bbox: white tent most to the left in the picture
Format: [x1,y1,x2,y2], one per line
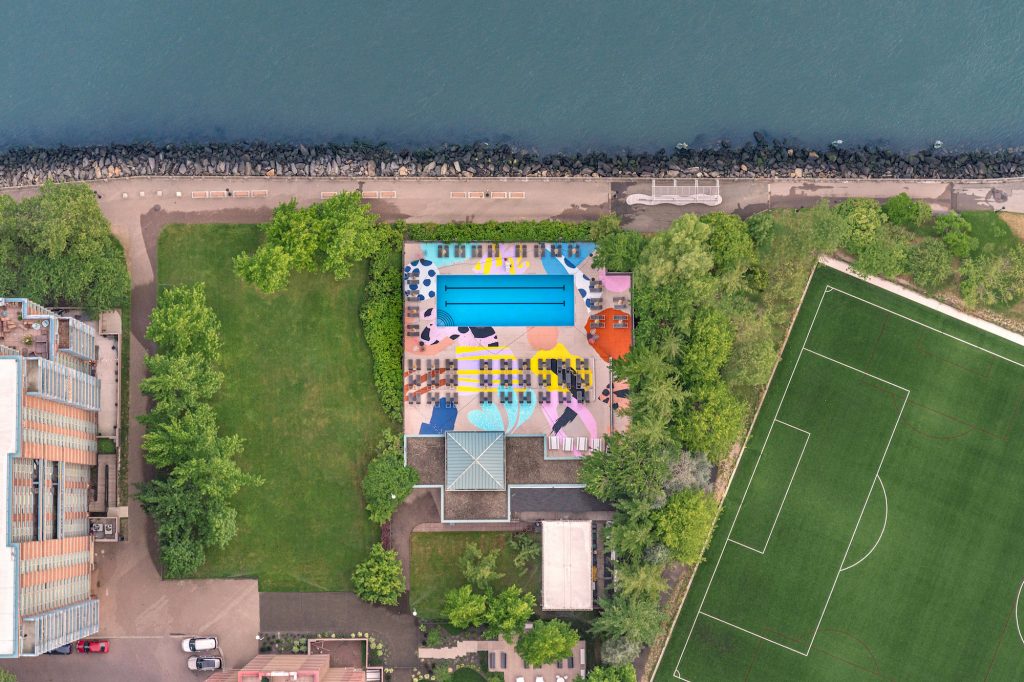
[542,521,593,610]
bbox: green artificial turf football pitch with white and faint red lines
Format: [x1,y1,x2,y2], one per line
[650,262,1024,682]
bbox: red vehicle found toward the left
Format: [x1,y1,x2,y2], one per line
[76,640,109,654]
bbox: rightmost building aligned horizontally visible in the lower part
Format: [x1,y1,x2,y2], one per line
[405,431,605,522]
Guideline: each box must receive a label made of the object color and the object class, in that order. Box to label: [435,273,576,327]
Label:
blue swimming pool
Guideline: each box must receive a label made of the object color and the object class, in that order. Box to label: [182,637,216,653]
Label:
white car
